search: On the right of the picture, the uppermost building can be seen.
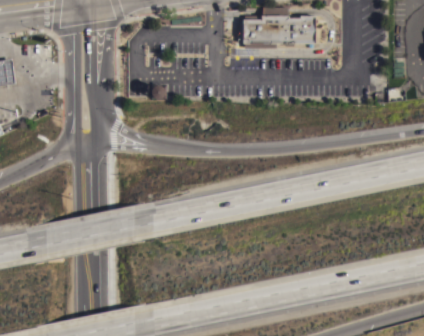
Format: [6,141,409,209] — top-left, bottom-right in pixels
[243,8,318,48]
